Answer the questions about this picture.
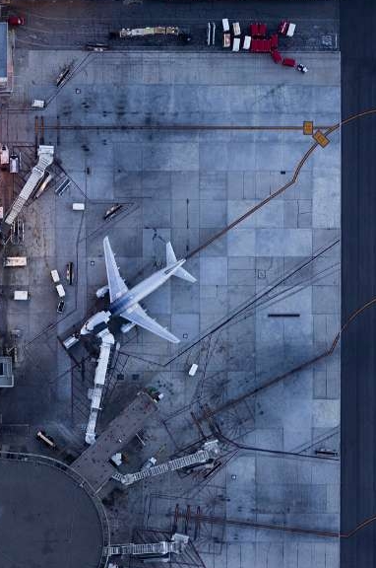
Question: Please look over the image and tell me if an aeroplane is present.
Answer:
Yes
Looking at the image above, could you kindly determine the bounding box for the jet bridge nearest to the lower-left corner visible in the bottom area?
[105,533,187,558]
